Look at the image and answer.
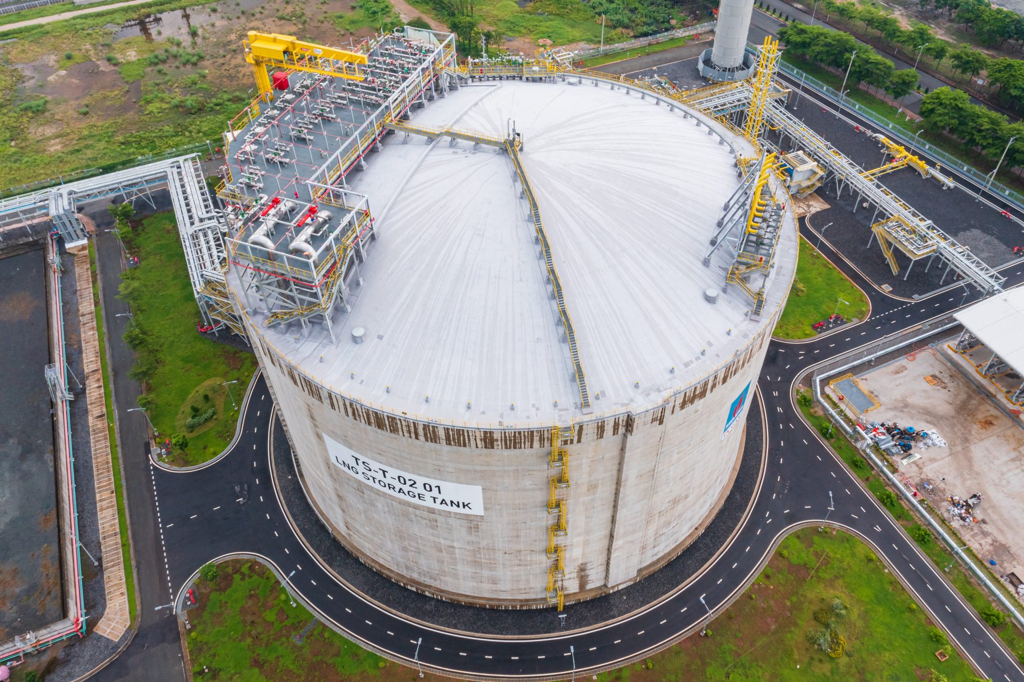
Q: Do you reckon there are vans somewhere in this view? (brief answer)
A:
No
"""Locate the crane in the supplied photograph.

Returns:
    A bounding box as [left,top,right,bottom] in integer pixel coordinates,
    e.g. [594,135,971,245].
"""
[239,27,369,105]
